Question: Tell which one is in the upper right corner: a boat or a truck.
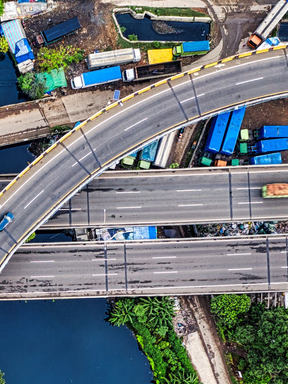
truck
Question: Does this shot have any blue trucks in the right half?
Yes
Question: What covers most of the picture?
paved ground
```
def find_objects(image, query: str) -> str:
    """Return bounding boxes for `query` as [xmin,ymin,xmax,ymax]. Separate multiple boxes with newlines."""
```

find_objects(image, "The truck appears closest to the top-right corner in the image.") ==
[241,0,288,50]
